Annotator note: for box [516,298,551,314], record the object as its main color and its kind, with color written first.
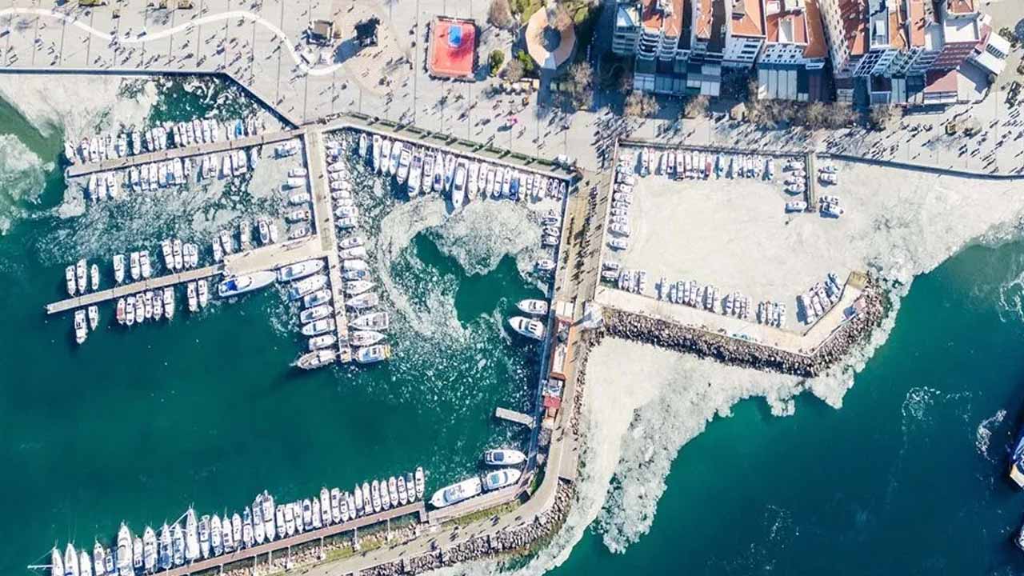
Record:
white boat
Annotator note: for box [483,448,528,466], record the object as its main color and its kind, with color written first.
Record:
white boat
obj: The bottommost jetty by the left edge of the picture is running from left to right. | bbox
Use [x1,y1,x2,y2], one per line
[46,263,225,314]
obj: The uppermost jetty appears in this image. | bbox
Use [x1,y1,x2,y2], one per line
[66,130,309,179]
